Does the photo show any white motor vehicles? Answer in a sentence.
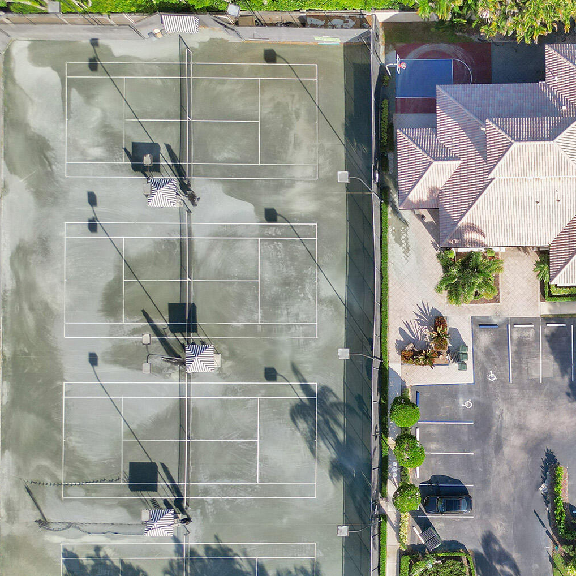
No, this view has no white motor vehicle in it.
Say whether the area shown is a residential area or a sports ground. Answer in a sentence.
The area seen from above is a sports ground.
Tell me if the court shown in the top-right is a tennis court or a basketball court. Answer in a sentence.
The court shown in the top-right is a basketball court.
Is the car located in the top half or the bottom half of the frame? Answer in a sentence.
The bottom half of the photo is where the car is.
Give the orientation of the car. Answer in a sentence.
The car is laid out from side to side.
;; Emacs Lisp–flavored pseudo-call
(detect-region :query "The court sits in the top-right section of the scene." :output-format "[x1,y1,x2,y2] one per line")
[395,43,553,114]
